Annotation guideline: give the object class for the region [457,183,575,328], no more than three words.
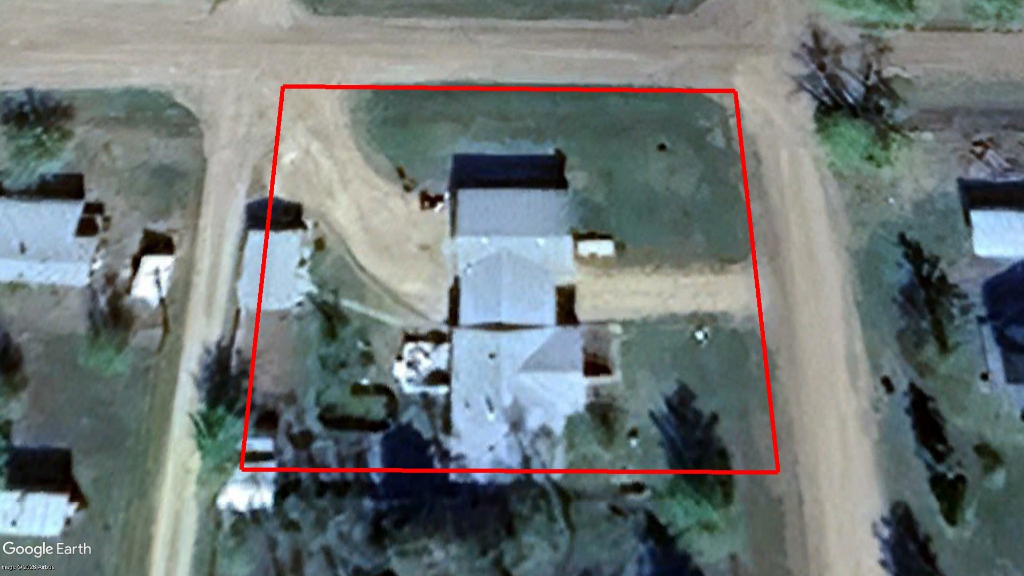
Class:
building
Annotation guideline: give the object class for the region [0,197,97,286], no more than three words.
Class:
house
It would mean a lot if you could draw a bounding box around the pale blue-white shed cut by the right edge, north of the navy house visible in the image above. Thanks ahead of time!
[969,205,1024,257]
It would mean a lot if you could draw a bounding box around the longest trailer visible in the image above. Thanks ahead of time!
[577,236,623,256]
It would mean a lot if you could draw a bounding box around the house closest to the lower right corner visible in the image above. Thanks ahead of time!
[988,313,1024,386]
